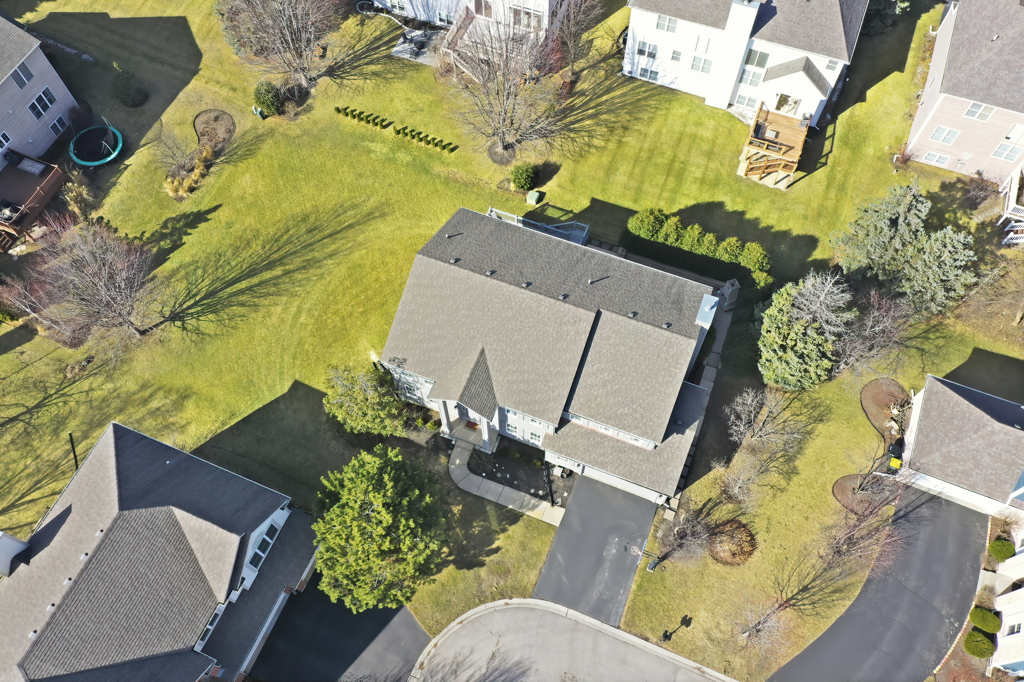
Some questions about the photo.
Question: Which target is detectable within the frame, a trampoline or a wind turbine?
trampoline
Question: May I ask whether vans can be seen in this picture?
No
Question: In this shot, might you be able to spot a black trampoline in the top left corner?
Yes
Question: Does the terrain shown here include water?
No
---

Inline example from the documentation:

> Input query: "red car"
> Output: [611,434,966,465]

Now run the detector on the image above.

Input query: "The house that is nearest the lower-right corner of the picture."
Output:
[866,373,1024,682]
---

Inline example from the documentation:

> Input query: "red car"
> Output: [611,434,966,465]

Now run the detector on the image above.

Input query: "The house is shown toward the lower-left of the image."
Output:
[0,420,332,682]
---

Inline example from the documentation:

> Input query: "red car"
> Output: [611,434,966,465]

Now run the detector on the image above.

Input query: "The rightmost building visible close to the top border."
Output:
[901,0,1024,182]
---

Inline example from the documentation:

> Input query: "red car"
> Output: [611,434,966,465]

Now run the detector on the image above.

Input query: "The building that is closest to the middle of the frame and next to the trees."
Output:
[378,208,720,514]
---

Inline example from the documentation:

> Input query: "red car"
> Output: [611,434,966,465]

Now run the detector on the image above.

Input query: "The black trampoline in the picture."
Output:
[57,110,121,164]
